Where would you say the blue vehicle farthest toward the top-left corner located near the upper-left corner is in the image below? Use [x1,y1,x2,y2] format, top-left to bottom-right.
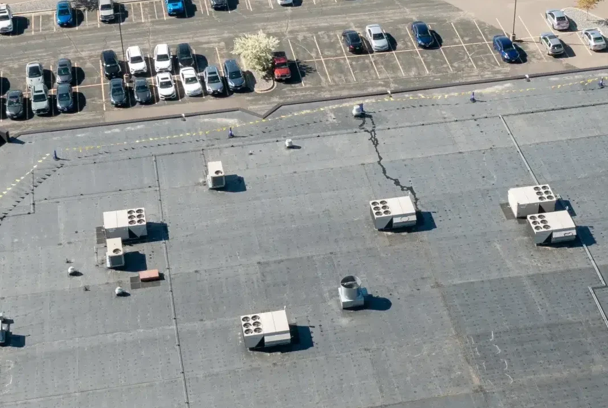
[56,2,73,26]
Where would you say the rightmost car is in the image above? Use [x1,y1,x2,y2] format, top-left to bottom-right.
[580,30,608,54]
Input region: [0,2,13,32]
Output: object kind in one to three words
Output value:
vehicle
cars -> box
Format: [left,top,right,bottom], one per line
[4,92,25,121]
[175,39,195,72]
[181,70,203,98]
[538,34,567,59]
[54,60,75,88]
[543,11,573,34]
[56,2,73,26]
[132,79,154,108]
[224,60,246,91]
[108,80,128,109]
[28,83,51,116]
[164,0,183,15]
[127,45,148,75]
[0,2,13,32]
[101,46,123,79]
[580,30,608,54]
[54,86,76,115]
[410,25,435,51]
[153,41,174,72]
[211,0,226,8]
[492,38,520,64]
[342,32,366,57]
[202,65,225,96]
[25,64,46,92]
[366,27,389,53]
[156,75,177,104]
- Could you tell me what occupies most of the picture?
buildings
